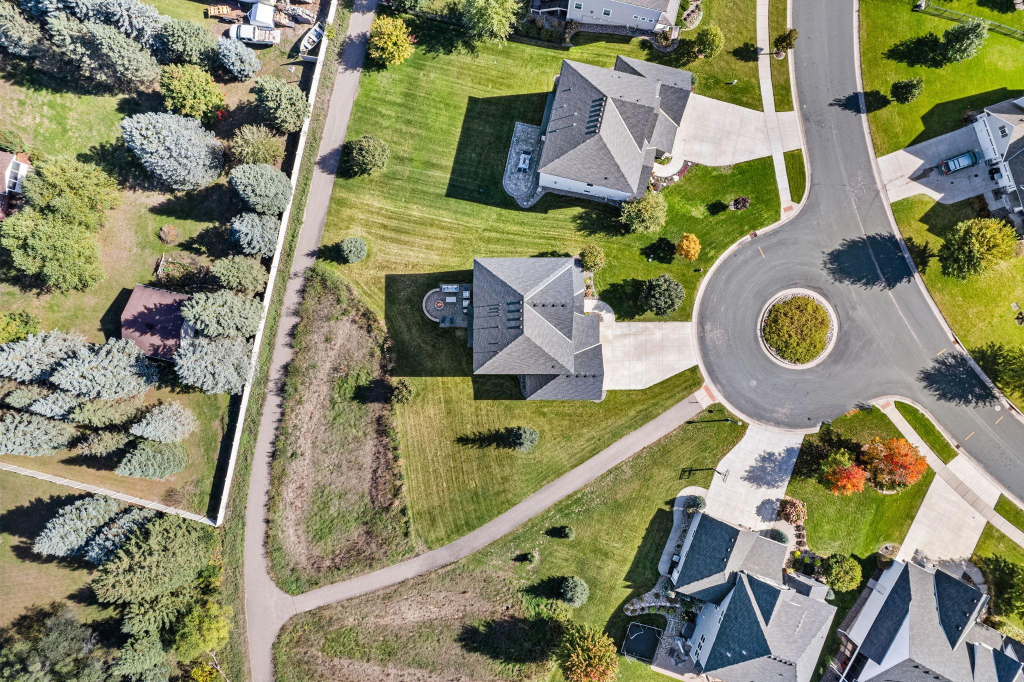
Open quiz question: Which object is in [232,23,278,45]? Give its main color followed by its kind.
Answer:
white truck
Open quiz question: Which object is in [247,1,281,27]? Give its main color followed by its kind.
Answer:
white trailer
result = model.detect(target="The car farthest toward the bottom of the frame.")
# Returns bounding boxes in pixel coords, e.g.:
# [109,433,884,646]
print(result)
[942,149,983,176]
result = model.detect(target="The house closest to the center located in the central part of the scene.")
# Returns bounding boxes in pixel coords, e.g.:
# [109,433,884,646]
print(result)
[468,257,604,400]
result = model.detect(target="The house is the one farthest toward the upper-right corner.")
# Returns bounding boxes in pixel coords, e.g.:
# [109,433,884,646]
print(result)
[972,93,1024,219]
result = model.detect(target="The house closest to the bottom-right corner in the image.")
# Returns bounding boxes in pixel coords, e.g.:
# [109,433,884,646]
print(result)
[844,560,1024,682]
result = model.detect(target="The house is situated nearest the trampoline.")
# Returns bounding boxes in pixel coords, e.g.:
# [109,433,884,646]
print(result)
[672,512,837,682]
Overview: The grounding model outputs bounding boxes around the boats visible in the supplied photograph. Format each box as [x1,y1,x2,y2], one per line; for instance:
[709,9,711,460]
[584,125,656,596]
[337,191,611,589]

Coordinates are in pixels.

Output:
[296,21,320,54]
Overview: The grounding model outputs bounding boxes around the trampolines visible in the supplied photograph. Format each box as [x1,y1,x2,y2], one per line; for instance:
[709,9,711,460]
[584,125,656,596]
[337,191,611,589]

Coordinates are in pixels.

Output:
[621,621,663,662]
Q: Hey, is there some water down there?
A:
No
